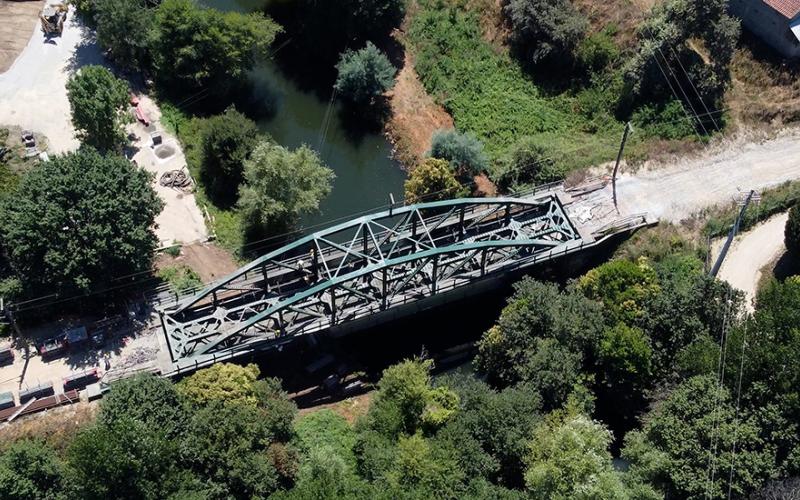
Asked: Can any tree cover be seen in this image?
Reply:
Yes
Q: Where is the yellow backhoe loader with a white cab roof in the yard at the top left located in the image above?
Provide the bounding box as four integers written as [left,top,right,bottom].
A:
[34,0,67,47]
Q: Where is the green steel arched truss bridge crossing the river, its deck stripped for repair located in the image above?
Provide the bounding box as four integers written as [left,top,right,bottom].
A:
[126,174,616,392]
